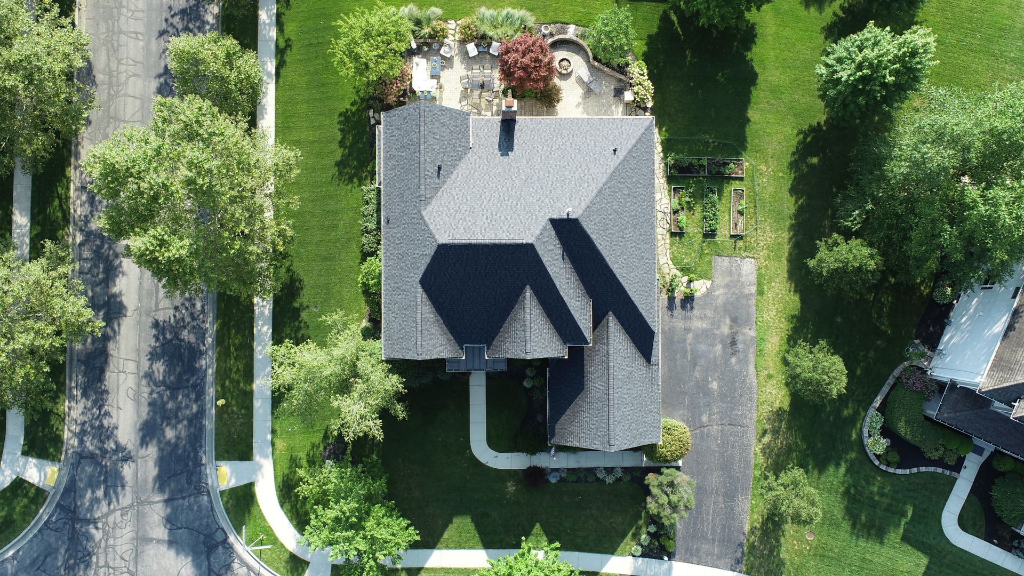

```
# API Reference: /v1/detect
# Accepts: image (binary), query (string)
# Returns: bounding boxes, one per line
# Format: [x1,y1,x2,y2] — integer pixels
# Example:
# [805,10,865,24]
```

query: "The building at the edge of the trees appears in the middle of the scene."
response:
[375,98,663,454]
